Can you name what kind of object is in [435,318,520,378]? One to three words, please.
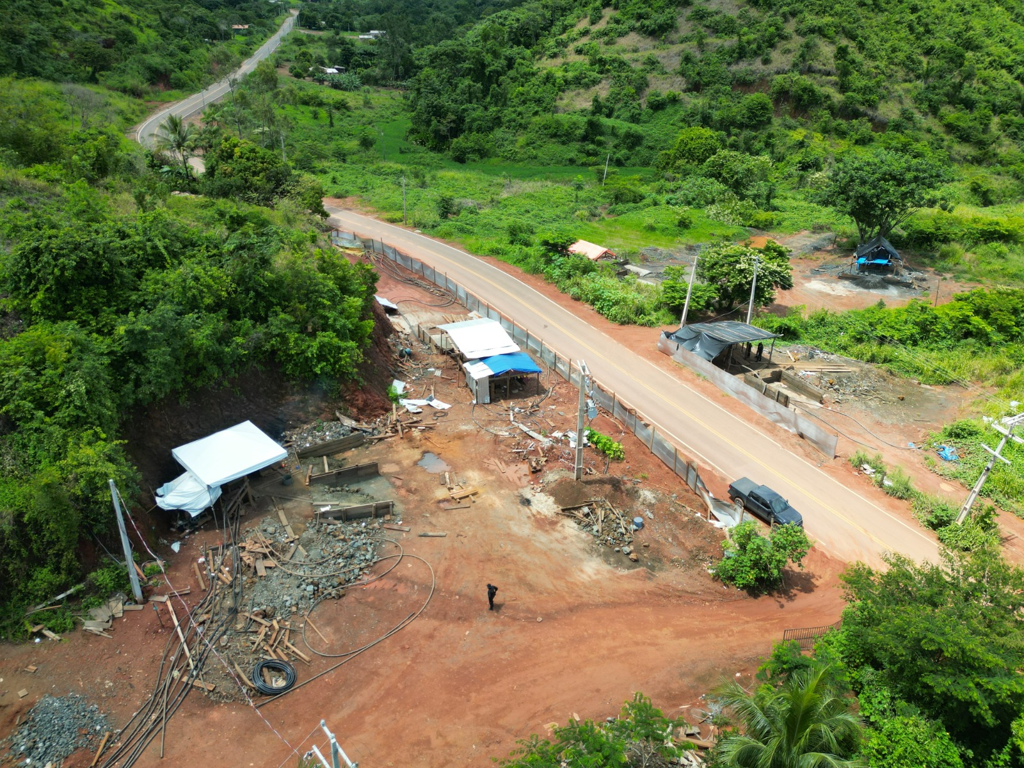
shed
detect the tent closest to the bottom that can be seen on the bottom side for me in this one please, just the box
[171,420,291,516]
